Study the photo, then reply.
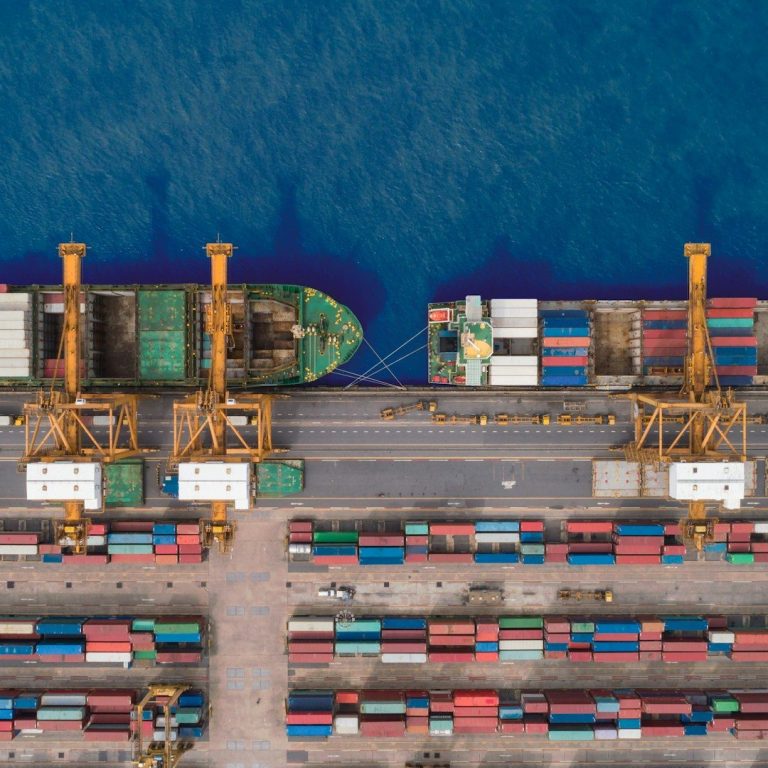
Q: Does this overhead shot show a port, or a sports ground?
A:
port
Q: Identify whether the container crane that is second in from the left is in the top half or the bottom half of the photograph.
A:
bottom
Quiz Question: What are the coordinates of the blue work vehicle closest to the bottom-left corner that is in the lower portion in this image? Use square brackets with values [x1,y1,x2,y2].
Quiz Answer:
[162,475,182,496]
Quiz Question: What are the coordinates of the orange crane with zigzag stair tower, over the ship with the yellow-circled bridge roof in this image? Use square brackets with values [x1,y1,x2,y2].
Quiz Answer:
[608,244,748,552]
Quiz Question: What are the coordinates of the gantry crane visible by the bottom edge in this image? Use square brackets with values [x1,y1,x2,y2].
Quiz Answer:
[128,684,195,768]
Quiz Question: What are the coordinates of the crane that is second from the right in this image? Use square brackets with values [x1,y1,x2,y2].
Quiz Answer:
[166,230,290,552]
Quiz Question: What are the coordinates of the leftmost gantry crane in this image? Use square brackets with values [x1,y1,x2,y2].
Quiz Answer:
[16,230,160,552]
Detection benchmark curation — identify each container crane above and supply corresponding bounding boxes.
[608,244,748,552]
[166,230,290,552]
[128,684,195,768]
[16,230,160,552]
